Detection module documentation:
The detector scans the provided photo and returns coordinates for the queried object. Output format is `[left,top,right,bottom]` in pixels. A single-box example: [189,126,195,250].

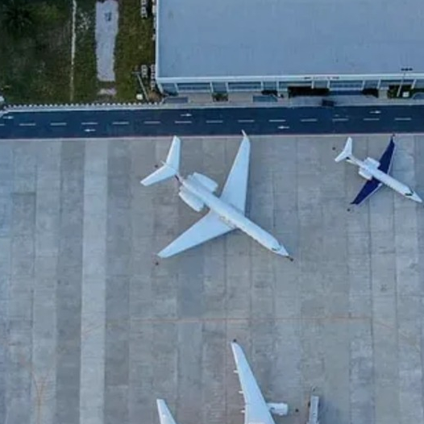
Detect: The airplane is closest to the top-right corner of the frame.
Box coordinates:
[335,138,422,204]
